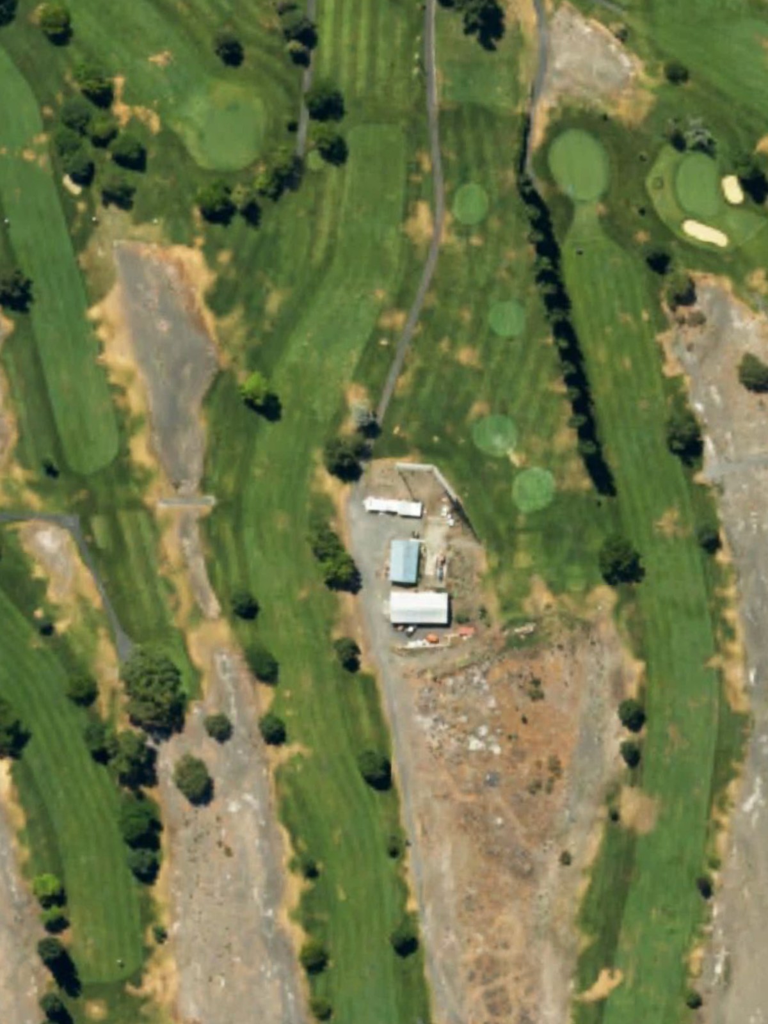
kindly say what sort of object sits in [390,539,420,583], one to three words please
shed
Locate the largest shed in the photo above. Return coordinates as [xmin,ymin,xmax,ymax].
[390,591,448,624]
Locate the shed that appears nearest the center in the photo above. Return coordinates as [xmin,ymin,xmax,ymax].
[365,495,422,516]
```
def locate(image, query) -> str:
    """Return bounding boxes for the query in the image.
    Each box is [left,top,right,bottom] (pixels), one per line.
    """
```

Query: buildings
[390,539,420,583]
[365,495,422,516]
[390,591,448,624]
